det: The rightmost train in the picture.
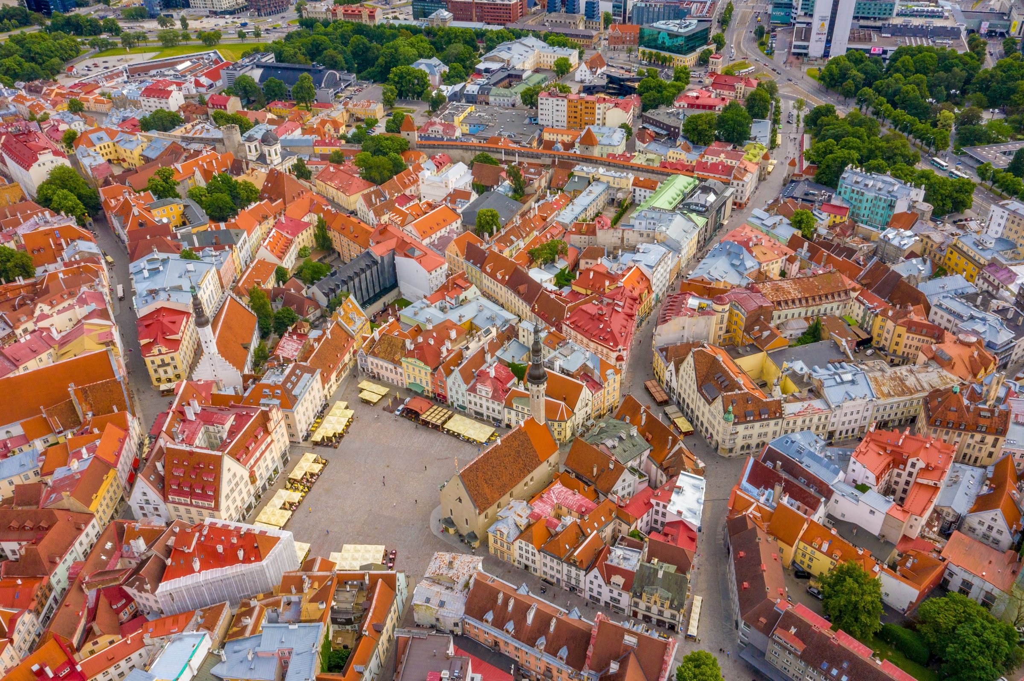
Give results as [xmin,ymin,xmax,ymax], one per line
[734,60,768,74]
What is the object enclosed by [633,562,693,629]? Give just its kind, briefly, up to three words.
house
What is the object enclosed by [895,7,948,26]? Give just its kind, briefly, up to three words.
building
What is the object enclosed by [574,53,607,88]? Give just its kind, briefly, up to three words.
house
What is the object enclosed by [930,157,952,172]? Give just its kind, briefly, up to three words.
vehicle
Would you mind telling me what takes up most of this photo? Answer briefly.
buildings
